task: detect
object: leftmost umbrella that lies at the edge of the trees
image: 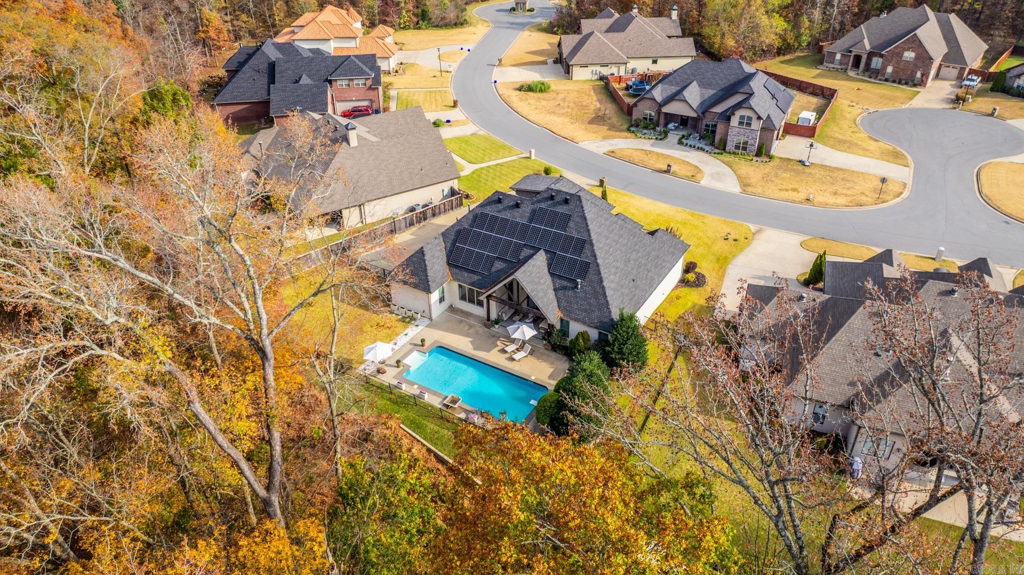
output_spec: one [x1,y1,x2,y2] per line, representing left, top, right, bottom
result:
[353,329,392,364]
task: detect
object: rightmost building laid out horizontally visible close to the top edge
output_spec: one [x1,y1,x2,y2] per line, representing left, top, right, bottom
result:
[824,4,991,87]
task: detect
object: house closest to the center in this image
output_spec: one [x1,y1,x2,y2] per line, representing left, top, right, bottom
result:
[389,159,689,357]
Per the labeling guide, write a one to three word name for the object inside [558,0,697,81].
house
